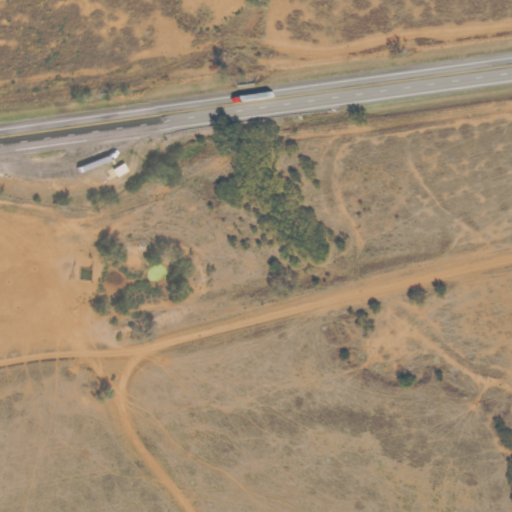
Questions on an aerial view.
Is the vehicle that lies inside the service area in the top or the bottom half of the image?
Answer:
top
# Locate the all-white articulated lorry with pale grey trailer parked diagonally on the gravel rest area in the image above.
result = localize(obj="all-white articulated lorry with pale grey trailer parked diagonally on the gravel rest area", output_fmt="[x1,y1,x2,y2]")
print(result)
[78,152,118,172]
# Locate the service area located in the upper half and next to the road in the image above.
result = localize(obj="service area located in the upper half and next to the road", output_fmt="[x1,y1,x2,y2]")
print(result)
[0,127,187,181]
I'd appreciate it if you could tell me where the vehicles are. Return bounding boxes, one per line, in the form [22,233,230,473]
[232,91,274,102]
[78,152,118,172]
